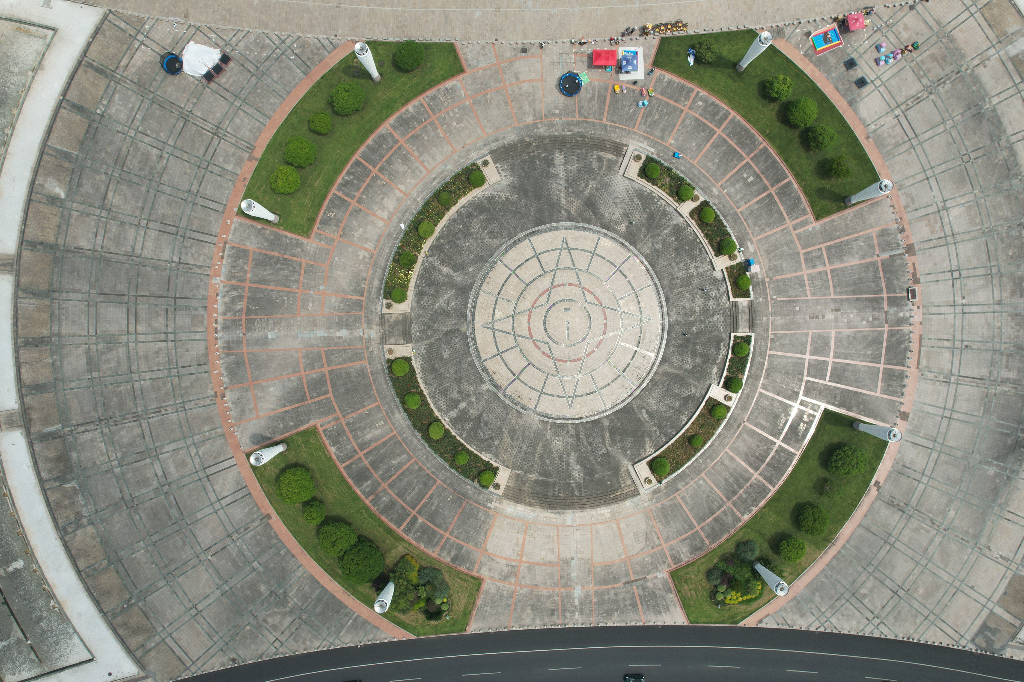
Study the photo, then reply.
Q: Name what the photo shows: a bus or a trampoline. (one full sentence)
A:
The one in the frame is a trampoline.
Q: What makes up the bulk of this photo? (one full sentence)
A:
The bulk of the photo consists of paved ground.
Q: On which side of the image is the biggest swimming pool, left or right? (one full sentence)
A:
The biggest swimming pool sits on the right side.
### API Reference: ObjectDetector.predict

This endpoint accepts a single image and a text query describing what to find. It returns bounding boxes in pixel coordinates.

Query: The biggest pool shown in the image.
[812,28,840,51]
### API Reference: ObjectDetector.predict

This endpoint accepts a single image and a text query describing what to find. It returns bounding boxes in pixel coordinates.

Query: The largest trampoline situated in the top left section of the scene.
[159,52,182,75]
